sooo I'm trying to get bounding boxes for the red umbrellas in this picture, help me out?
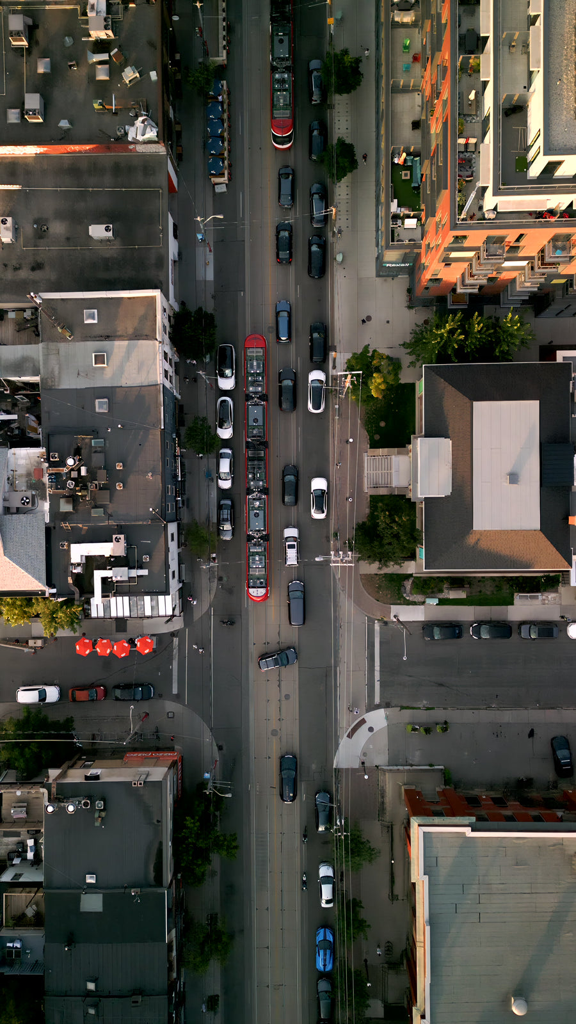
[95,638,113,656]
[76,637,94,655]
[136,636,154,654]
[114,639,131,657]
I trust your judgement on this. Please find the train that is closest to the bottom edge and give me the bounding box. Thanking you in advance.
[244,336,270,601]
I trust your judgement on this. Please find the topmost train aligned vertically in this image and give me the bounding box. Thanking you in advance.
[270,0,294,152]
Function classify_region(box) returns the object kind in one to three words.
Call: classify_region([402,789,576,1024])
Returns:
building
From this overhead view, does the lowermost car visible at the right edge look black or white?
black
